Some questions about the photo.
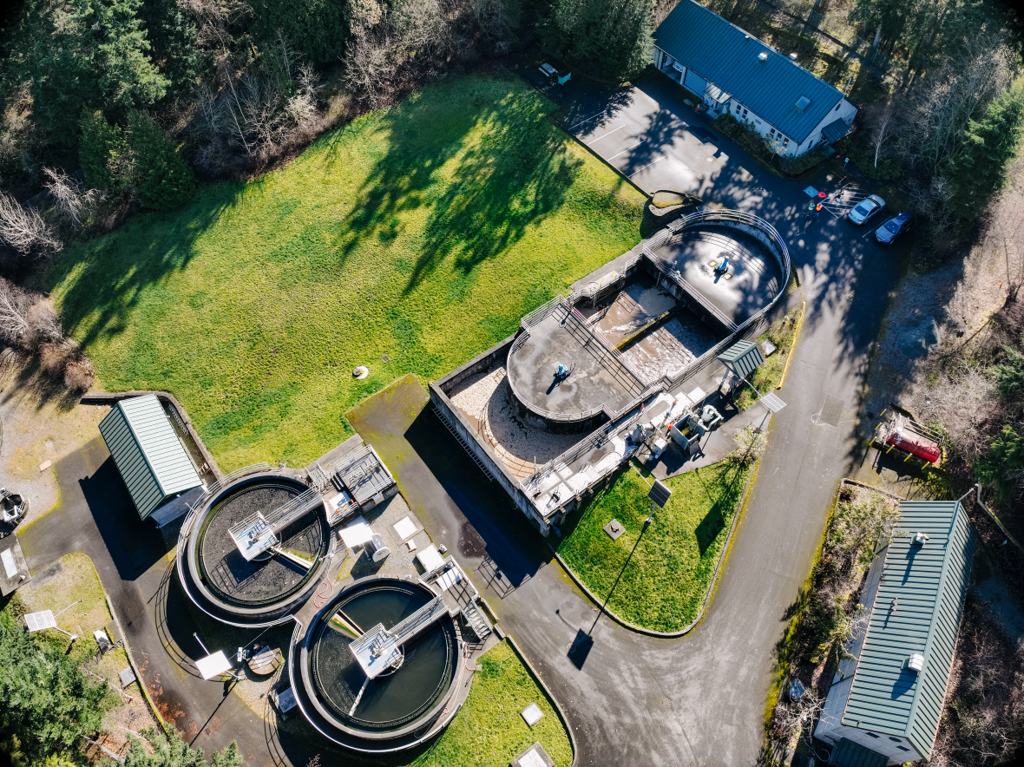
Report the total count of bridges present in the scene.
two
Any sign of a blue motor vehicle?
Yes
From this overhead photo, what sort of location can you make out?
industrial area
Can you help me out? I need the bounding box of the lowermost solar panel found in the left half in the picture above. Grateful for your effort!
[197,650,230,680]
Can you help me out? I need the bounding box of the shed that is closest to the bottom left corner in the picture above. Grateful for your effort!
[98,395,213,533]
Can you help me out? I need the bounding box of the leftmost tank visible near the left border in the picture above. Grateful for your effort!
[0,480,31,529]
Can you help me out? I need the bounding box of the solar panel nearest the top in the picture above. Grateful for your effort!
[762,393,785,411]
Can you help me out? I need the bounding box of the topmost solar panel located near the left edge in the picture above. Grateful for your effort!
[26,609,55,633]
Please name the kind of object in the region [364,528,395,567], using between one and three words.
storage tank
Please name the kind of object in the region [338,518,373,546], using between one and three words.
solar panel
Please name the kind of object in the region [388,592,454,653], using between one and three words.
bridge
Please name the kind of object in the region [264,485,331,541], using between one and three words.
bridge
